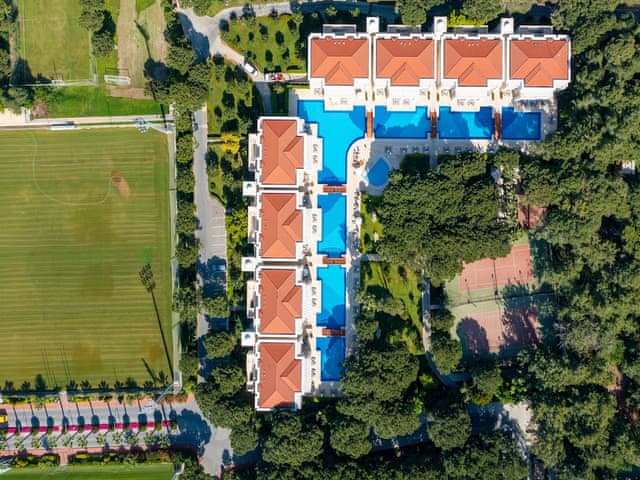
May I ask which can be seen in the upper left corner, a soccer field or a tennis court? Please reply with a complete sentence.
The feature located in the upper left corner is a soccer field.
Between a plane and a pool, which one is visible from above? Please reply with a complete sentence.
Of the two, only a pool appears.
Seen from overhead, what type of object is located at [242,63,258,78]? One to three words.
car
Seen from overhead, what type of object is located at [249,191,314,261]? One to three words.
house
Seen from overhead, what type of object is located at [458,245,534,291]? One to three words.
tennis court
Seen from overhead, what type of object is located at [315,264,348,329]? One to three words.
swimming pool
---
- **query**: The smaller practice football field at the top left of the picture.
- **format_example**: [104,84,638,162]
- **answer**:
[0,0,92,86]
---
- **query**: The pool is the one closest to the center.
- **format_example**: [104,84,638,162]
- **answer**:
[316,192,348,258]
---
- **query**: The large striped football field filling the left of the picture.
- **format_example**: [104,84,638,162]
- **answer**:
[0,128,174,388]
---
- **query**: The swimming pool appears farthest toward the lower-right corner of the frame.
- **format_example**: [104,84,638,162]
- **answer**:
[315,336,346,382]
